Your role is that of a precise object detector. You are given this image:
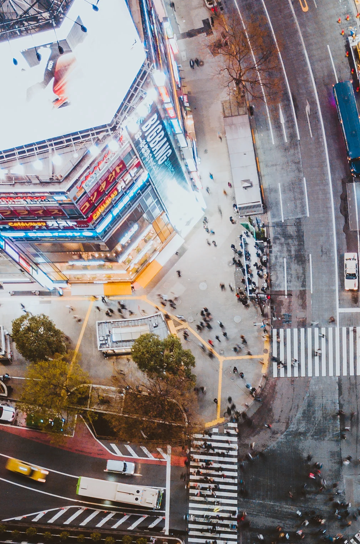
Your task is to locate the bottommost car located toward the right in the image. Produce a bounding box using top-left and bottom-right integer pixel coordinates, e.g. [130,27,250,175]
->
[344,253,359,291]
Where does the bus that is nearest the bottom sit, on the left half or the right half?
left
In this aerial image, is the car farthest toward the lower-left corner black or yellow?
yellow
